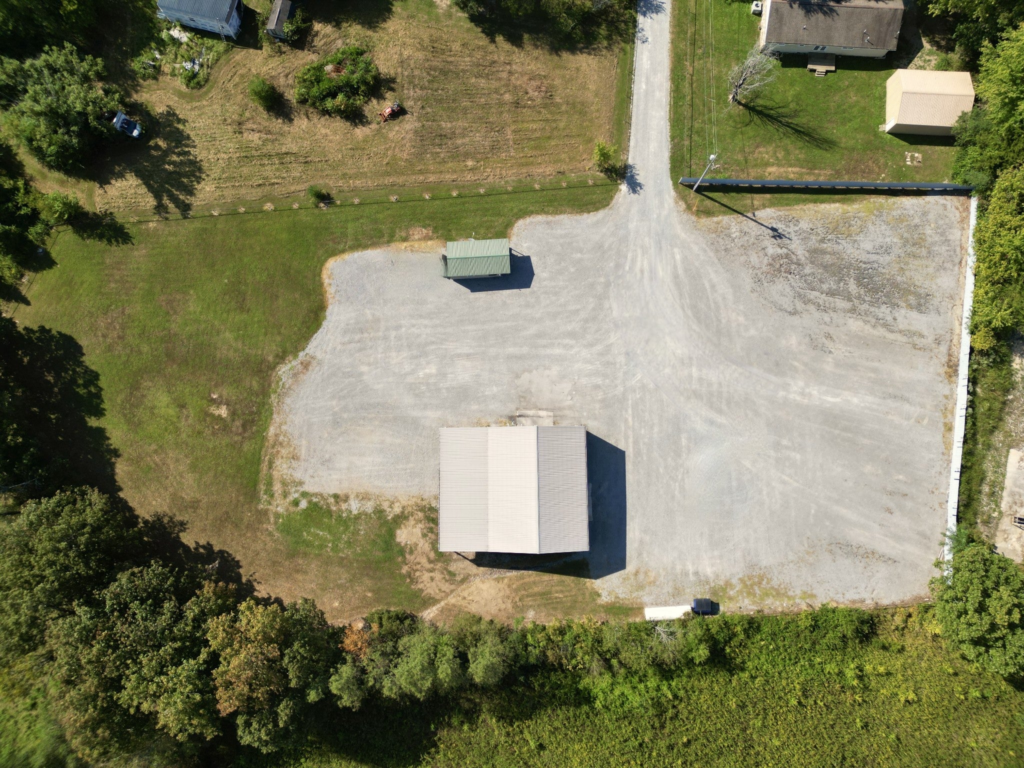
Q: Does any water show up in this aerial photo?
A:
No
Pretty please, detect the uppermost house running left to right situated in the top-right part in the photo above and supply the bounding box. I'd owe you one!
[760,0,904,58]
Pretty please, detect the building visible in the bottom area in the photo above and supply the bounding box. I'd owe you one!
[437,426,589,555]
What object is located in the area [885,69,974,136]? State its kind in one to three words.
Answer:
shed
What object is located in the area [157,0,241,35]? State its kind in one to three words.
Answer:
building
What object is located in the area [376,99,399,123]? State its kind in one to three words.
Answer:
work vehicle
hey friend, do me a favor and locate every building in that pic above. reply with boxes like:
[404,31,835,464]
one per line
[760,0,904,58]
[437,426,589,555]
[157,0,241,35]
[446,238,510,278]
[269,0,300,39]
[885,69,974,136]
